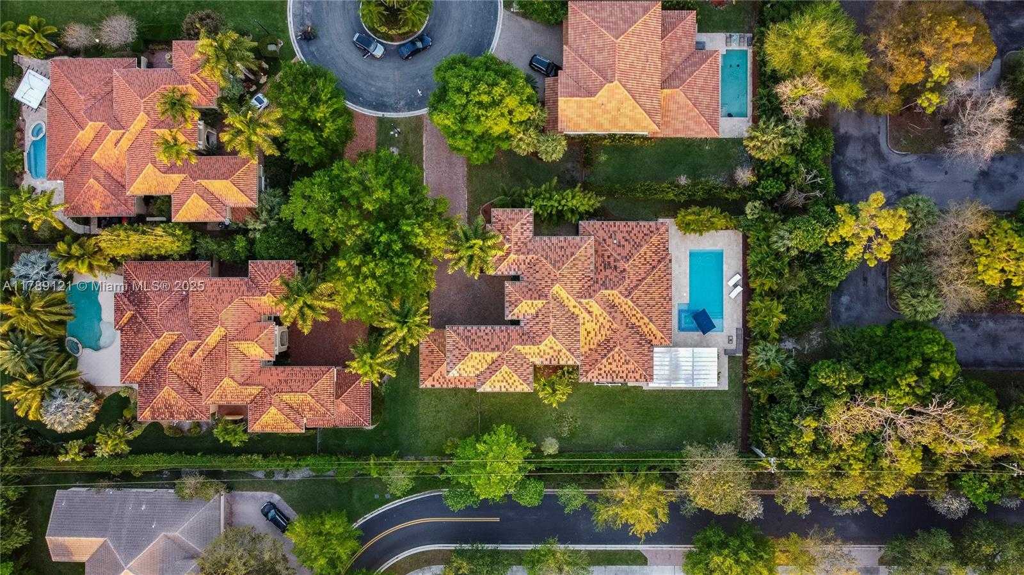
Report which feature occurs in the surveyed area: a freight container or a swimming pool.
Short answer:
swimming pool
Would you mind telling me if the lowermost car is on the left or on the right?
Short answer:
left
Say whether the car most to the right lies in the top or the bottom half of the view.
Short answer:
top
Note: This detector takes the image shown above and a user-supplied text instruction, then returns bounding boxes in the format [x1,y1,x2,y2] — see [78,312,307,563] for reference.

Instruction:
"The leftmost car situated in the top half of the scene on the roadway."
[352,34,386,62]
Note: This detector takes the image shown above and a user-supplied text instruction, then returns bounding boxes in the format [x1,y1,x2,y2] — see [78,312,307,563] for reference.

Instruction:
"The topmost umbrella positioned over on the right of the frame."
[692,308,716,335]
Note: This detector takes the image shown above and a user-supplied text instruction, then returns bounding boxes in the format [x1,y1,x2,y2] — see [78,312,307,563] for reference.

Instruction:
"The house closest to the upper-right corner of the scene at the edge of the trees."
[545,0,720,138]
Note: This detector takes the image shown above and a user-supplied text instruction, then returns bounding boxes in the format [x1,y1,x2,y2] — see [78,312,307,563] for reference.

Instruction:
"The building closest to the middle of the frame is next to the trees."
[419,208,673,393]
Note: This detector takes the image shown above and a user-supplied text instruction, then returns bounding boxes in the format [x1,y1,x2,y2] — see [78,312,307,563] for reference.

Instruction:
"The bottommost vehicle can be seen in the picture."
[262,500,293,534]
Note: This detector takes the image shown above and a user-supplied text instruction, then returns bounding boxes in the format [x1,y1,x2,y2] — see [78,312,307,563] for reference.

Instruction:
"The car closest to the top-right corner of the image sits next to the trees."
[528,54,562,77]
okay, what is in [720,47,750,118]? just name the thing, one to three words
swimming pool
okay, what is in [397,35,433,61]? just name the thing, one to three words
car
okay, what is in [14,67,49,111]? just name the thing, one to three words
gazebo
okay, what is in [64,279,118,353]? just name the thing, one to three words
swimming pool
